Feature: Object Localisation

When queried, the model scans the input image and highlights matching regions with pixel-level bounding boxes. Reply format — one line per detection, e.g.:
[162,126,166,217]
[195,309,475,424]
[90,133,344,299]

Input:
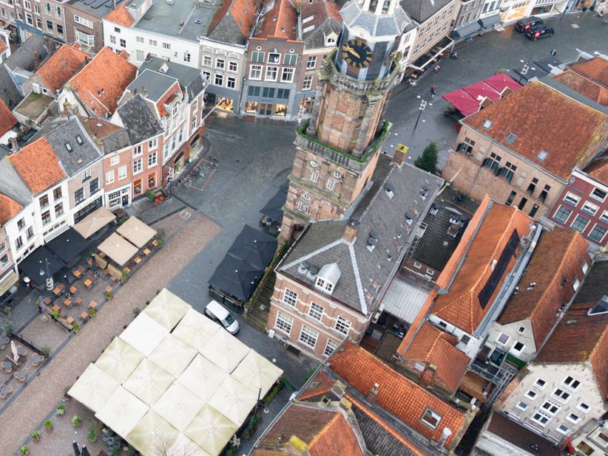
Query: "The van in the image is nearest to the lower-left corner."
[203,293,245,336]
